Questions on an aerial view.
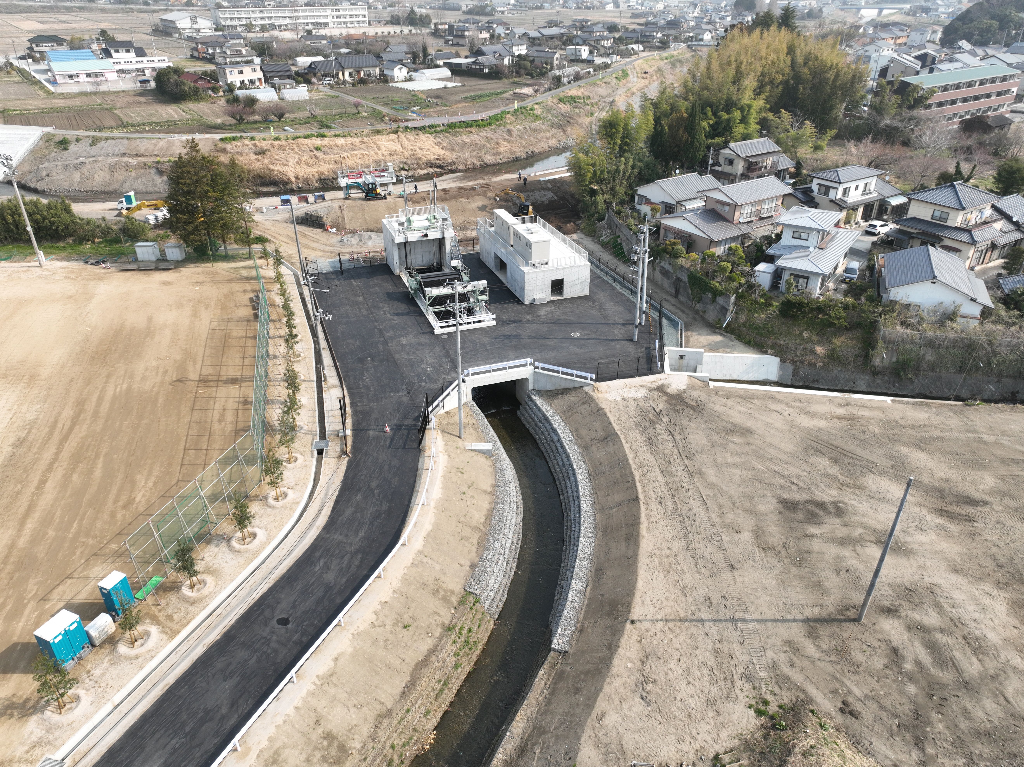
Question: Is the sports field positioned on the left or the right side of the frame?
left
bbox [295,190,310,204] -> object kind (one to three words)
vehicle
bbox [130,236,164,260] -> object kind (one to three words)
shed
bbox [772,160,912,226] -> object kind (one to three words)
house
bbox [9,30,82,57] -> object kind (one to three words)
house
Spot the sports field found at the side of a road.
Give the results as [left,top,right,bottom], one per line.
[0,261,268,725]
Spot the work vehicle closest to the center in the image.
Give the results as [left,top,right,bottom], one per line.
[476,183,542,222]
